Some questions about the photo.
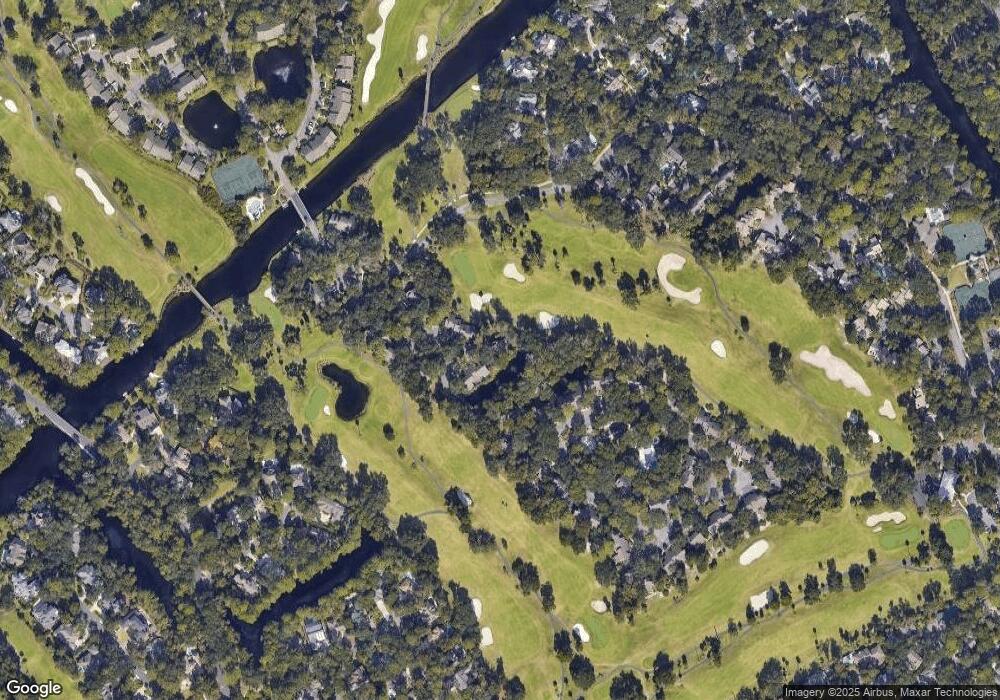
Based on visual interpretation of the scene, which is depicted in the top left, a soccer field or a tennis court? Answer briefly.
tennis court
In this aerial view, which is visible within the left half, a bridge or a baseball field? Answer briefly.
bridge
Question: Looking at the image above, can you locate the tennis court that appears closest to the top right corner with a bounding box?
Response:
[944,221,989,261]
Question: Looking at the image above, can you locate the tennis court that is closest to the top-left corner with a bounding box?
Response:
[213,155,266,204]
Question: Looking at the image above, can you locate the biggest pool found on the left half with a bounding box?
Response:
[246,195,264,220]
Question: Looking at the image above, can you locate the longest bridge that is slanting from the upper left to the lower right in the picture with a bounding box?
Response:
[33,397,93,448]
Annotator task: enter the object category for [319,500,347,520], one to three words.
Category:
house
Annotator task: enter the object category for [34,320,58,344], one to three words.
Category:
house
